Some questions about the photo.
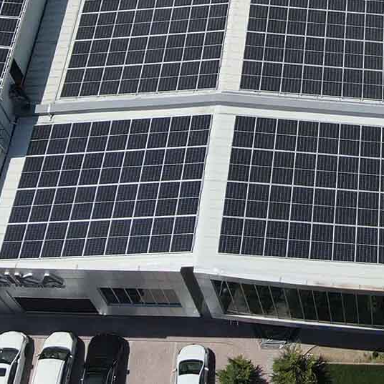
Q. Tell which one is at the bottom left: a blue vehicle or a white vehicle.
white vehicle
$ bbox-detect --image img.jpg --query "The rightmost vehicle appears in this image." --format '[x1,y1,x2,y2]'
[169,345,210,384]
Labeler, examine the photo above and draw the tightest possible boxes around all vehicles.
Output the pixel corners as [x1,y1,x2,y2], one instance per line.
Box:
[169,345,210,384]
[0,331,30,384]
[31,333,81,384]
[78,334,127,384]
